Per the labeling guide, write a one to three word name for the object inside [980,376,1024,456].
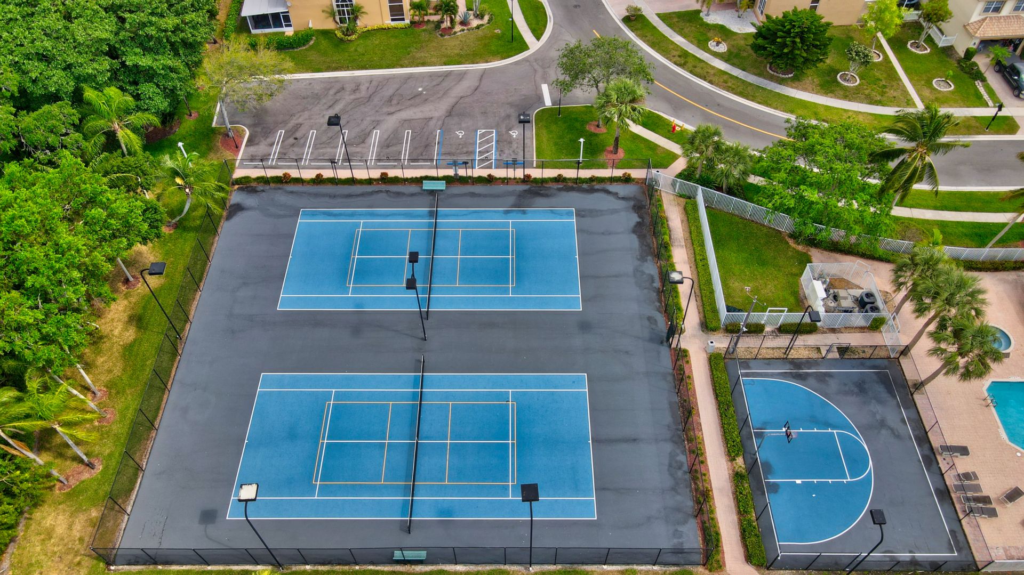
swimming pool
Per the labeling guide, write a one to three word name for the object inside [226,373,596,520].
tennis court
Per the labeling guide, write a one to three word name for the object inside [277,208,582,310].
tennis court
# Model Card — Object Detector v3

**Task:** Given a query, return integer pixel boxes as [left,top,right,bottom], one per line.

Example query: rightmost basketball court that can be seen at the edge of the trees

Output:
[727,358,974,570]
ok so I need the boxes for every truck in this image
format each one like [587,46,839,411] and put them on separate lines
[997,60,1024,99]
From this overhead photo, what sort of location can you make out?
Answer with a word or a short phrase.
sports ground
